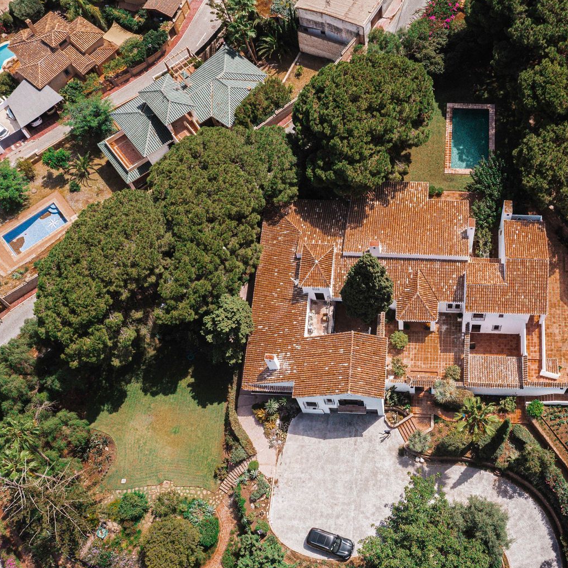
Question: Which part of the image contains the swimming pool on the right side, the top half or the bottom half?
top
